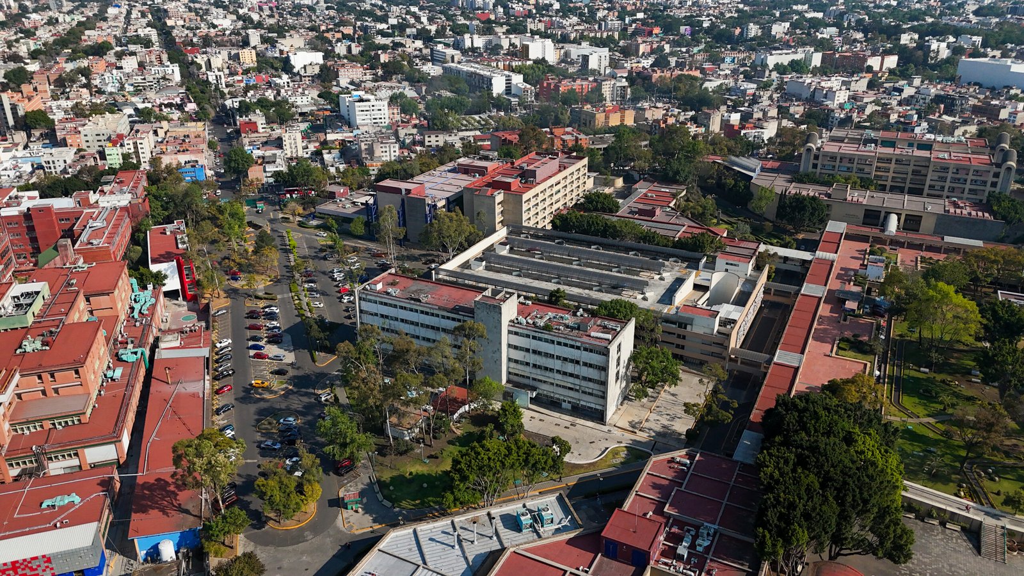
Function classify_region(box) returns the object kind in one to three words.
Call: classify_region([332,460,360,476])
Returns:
vehicle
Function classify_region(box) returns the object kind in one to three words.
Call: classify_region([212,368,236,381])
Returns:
vehicle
